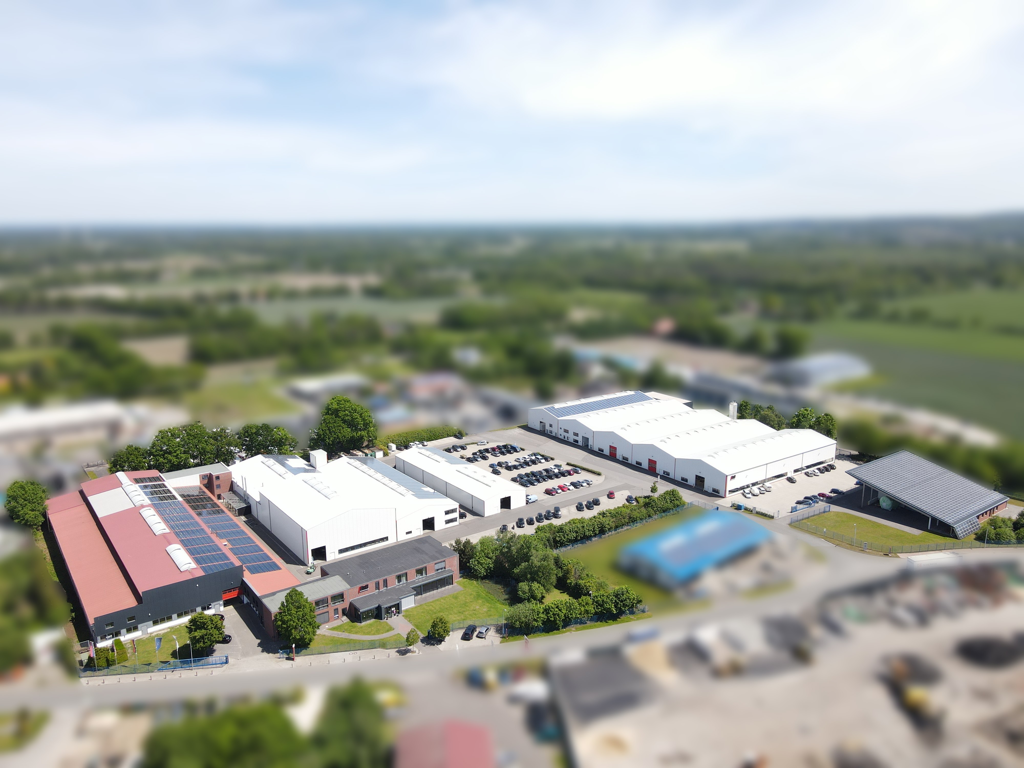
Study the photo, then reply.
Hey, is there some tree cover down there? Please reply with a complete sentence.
Yes, there's tree cover in this view.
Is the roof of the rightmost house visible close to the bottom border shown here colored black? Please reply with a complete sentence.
No, the roof of the rightmost house visible close to the bottom border is pink.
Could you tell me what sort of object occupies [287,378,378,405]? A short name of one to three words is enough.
building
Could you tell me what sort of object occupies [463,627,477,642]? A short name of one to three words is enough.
car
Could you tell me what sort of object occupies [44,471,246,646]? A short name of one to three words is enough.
building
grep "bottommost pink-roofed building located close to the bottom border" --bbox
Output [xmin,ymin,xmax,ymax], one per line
[416,715,501,768]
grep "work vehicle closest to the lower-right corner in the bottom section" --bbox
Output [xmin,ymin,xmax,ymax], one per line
[891,676,929,703]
